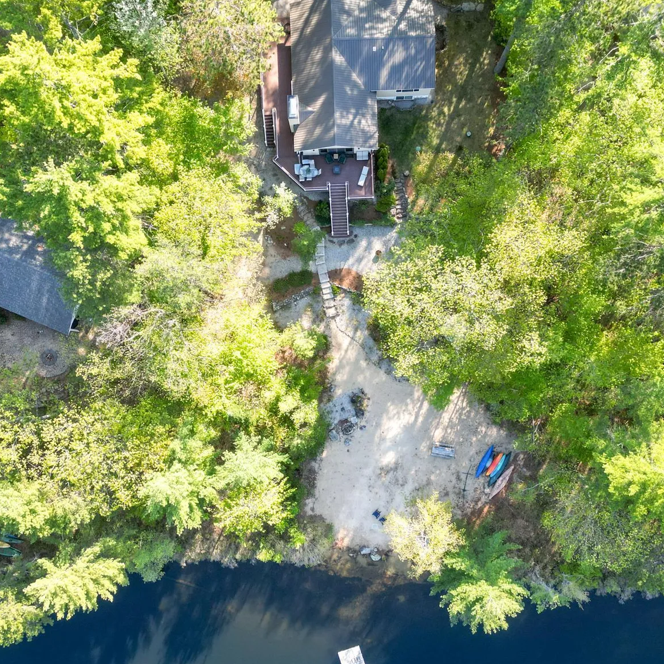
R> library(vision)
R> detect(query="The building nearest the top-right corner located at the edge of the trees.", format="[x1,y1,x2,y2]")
[286,0,436,153]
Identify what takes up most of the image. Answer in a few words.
trees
